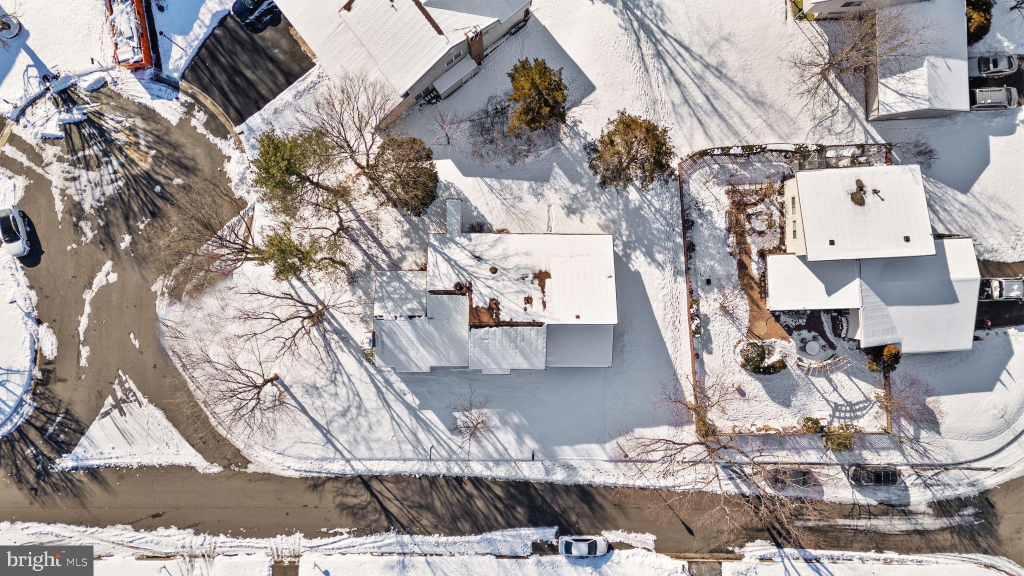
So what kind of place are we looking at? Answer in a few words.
residential area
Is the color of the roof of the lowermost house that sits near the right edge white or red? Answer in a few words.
white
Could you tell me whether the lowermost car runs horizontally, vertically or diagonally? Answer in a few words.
horizontally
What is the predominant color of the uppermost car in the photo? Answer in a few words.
black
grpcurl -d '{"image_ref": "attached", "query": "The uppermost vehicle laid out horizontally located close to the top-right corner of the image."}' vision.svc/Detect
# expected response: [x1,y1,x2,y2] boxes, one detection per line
[969,54,1018,77]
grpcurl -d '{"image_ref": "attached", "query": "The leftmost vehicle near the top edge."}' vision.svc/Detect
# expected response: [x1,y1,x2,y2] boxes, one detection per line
[231,0,276,28]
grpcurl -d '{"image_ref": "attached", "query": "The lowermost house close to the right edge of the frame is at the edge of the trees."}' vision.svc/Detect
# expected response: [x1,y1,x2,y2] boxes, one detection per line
[757,164,981,354]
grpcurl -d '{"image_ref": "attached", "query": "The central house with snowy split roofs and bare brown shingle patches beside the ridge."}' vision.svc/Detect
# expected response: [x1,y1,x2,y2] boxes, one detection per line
[364,199,618,375]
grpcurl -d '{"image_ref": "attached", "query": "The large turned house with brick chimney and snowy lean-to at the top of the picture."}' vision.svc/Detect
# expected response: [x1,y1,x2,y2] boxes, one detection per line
[276,0,532,132]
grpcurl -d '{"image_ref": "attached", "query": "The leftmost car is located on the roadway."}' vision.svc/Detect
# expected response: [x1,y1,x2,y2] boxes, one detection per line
[0,205,29,256]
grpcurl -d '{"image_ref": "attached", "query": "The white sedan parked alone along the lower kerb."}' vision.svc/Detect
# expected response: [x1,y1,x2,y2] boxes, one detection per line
[559,534,608,557]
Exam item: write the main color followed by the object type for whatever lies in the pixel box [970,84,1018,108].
gray car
